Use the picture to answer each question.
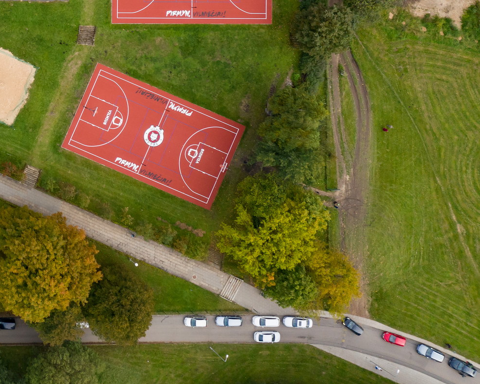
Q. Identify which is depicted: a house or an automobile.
automobile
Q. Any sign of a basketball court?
Yes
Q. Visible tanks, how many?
none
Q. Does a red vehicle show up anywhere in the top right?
No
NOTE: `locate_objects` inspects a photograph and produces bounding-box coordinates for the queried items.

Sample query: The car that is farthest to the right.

[447,356,480,380]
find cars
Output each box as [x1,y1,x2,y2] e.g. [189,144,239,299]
[254,331,281,345]
[415,343,448,366]
[282,316,313,329]
[447,356,480,380]
[215,315,244,329]
[251,315,281,329]
[184,316,209,329]
[341,318,367,338]
[0,318,15,329]
[380,329,410,350]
